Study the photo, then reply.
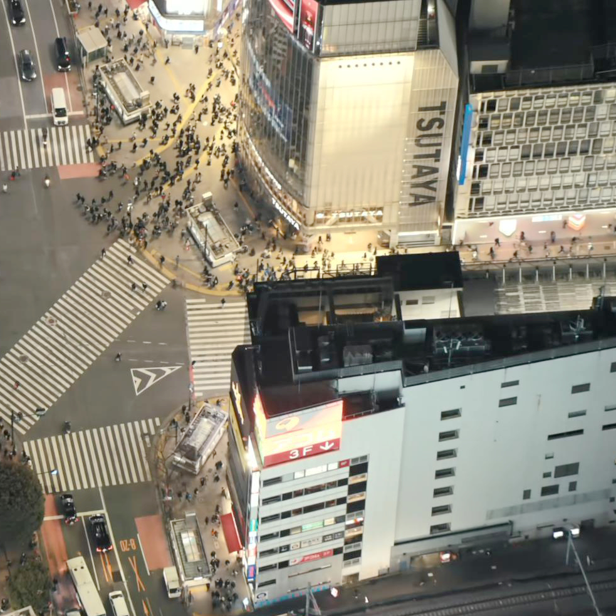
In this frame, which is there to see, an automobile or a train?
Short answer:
automobile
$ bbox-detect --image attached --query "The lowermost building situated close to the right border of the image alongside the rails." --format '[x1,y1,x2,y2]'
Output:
[391,284,616,569]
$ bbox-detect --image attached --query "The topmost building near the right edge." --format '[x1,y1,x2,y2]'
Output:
[454,0,616,249]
